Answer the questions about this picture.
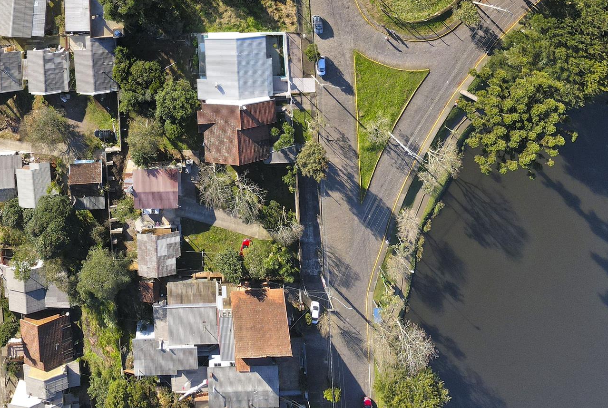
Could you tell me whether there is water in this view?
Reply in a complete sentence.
Yes, there is water in the image.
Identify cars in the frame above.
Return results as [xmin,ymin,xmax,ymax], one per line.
[363,398,374,408]
[309,302,321,327]
[316,55,327,76]
[94,131,114,143]
[313,14,325,36]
